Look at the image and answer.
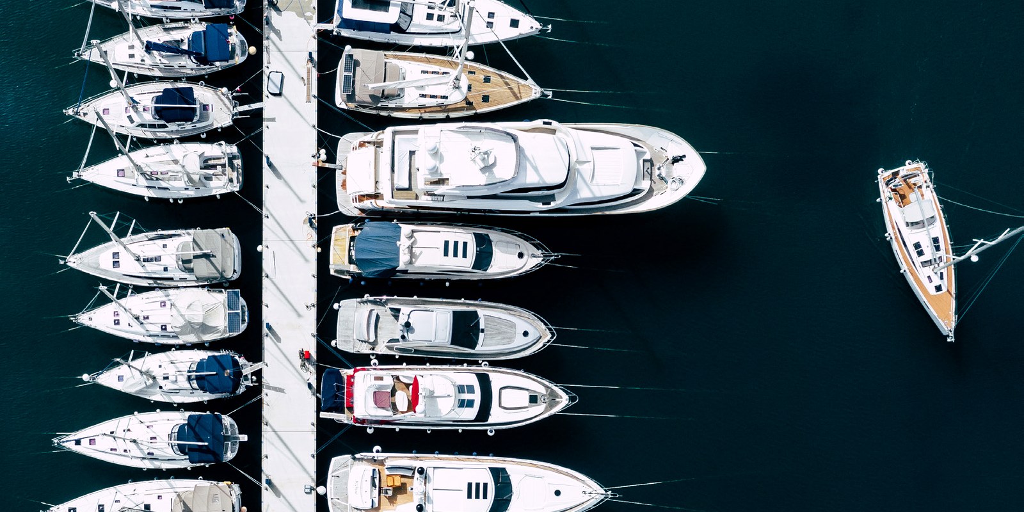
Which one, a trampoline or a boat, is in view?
boat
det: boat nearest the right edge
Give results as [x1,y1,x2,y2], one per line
[878,158,1024,342]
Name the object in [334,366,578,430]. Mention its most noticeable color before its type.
white boat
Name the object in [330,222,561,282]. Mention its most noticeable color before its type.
white boat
